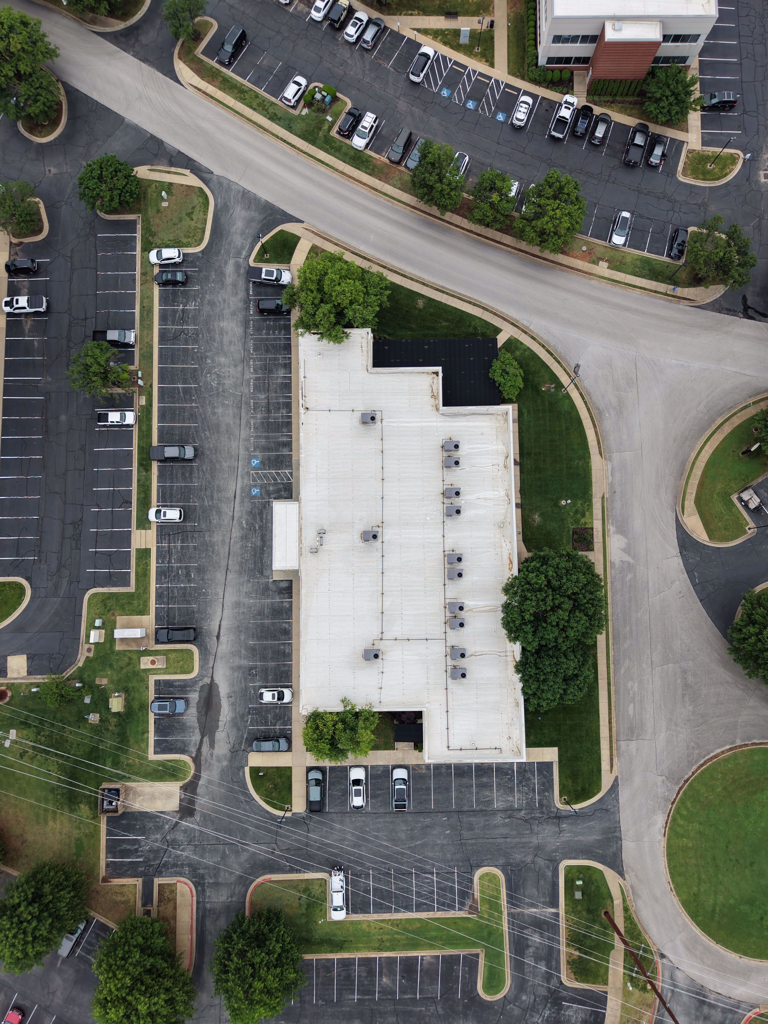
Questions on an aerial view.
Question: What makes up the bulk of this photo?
paved ground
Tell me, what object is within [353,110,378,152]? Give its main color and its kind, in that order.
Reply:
white car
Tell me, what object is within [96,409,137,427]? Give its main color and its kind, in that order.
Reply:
white vehicle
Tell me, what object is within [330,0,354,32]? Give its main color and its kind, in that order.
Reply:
black car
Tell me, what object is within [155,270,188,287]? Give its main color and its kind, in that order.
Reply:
black car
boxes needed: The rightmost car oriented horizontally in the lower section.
[252,736,290,753]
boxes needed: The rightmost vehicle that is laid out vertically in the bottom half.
[391,766,410,813]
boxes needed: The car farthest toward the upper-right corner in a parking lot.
[702,93,738,112]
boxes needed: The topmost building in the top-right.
[535,0,719,89]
